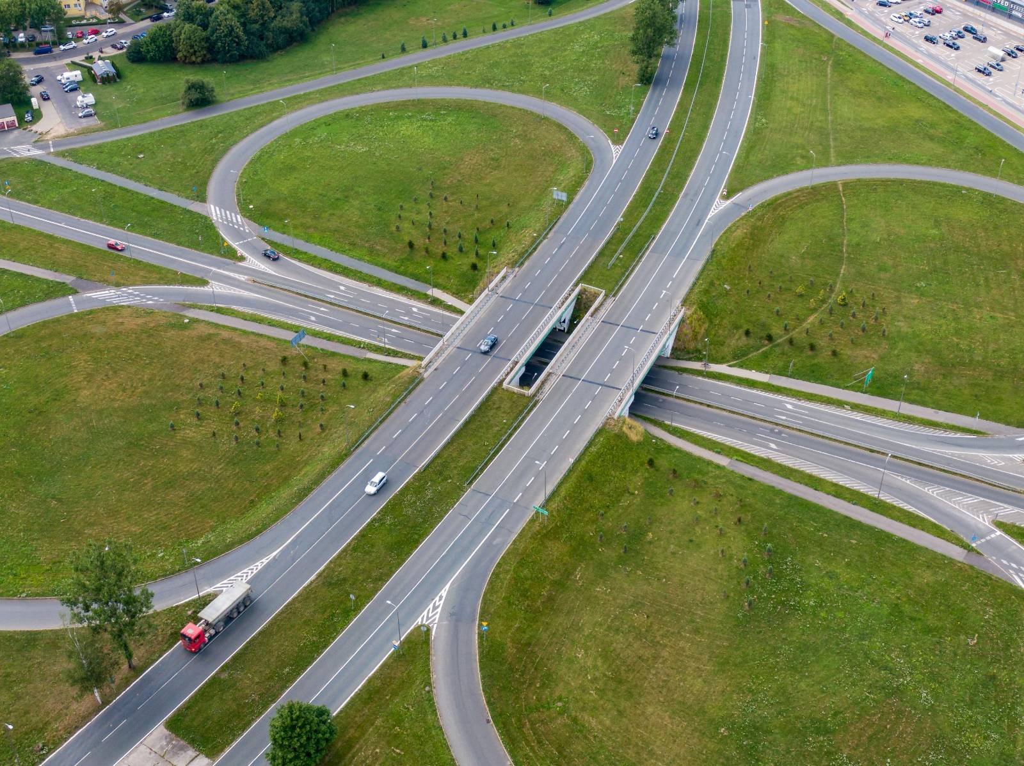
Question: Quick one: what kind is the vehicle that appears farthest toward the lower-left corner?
truck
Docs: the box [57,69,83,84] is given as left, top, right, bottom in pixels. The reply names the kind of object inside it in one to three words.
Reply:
camper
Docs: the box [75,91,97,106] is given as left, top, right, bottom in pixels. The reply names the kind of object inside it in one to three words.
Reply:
camper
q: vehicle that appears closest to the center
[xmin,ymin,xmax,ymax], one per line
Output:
[479,337,498,353]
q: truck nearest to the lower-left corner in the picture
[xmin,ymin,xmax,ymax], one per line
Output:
[180,583,250,651]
